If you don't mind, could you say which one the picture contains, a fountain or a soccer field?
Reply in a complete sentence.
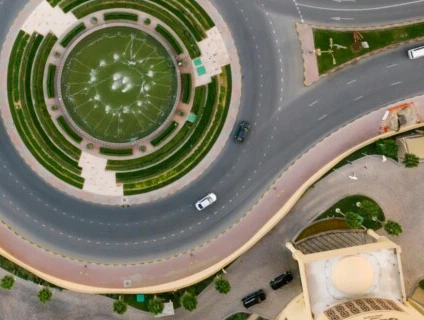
The image shows a fountain.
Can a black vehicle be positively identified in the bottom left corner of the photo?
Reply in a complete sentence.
No, no black vehicle is visible in the bottom left corner of the photo.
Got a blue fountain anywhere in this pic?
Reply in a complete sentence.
No, no blue fountain is visible in the scene.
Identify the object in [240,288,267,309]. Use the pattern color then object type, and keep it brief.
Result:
black car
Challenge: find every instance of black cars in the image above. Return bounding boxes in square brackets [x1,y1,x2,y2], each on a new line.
[234,120,251,144]
[268,270,294,291]
[240,288,267,309]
